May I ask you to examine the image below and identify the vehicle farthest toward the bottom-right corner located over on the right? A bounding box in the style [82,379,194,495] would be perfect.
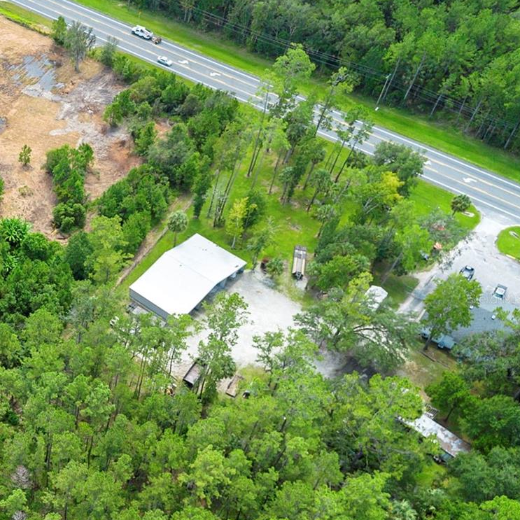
[490,277,512,298]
